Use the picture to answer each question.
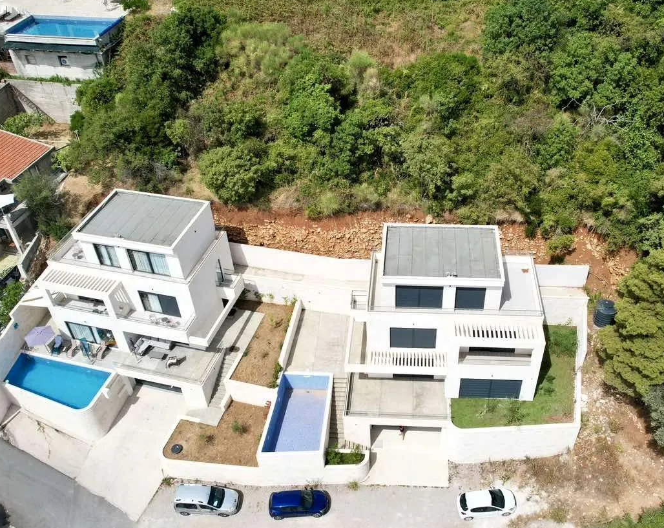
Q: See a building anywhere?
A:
Yes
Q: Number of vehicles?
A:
three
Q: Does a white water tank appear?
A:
No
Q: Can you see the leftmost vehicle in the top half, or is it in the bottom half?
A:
bottom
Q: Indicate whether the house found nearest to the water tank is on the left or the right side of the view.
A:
right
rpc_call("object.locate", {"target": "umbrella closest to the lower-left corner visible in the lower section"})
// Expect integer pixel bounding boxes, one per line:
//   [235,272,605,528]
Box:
[24,325,58,354]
